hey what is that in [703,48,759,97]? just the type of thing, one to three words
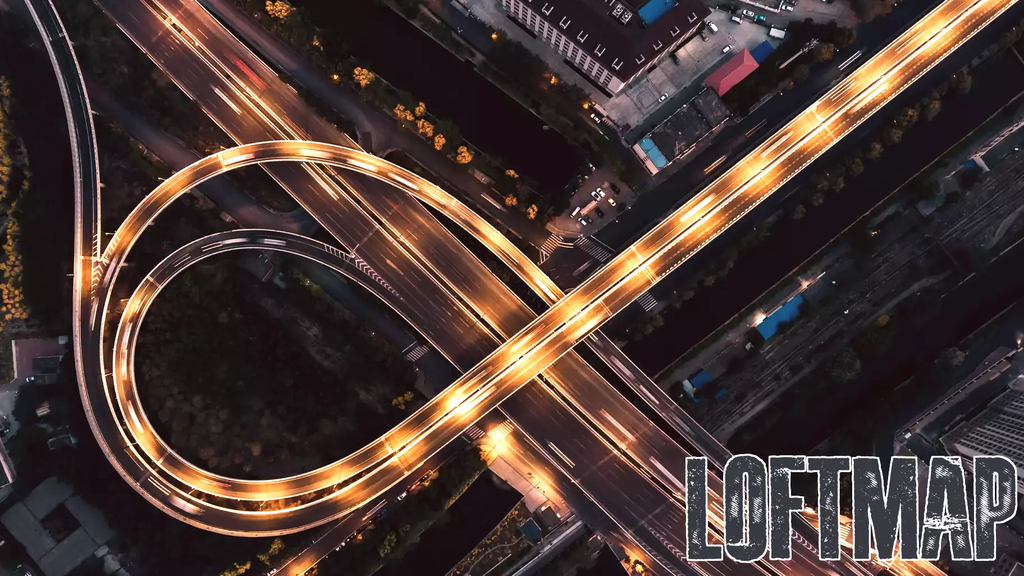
house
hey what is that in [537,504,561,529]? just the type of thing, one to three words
building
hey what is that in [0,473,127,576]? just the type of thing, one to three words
house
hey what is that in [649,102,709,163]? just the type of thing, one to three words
building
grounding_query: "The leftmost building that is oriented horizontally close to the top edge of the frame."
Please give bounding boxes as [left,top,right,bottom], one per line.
[502,0,713,93]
